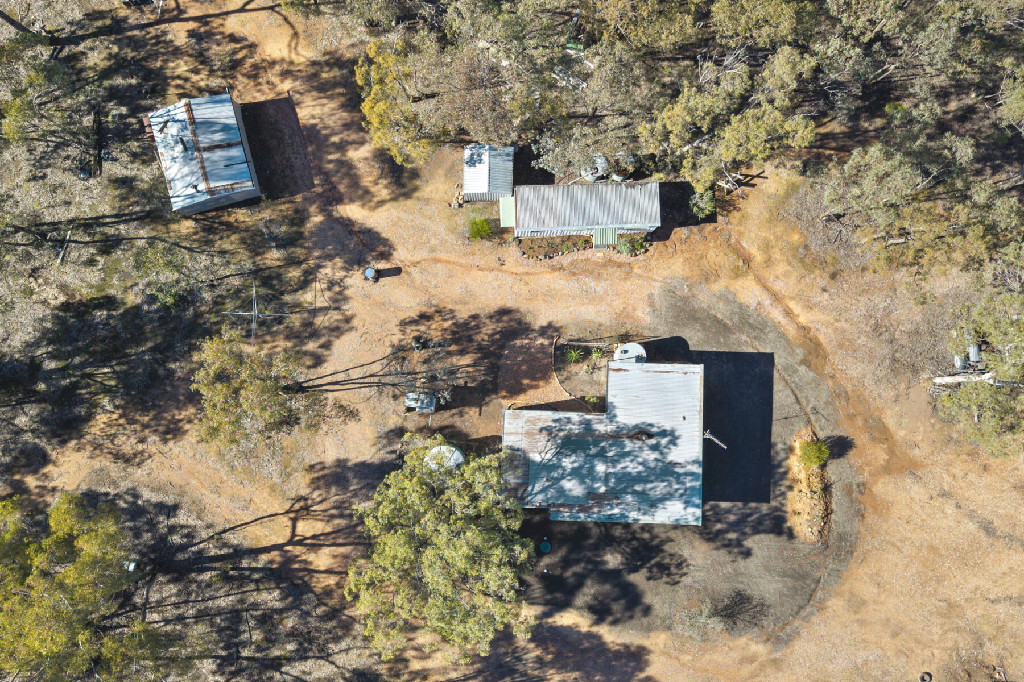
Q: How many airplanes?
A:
none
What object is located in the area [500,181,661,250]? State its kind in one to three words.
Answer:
building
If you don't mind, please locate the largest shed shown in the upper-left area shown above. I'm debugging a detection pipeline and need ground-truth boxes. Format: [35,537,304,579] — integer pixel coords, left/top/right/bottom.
[149,94,262,215]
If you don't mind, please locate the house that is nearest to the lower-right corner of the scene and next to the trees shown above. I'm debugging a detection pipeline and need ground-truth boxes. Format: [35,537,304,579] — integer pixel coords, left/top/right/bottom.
[500,362,706,526]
